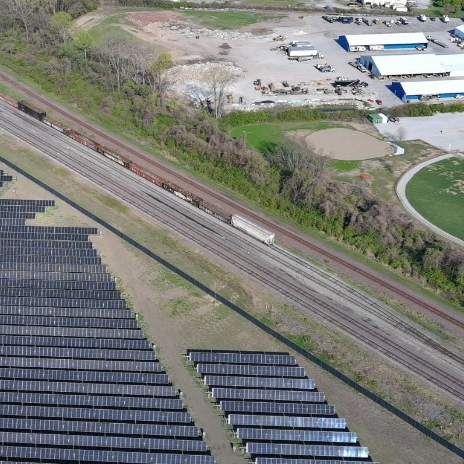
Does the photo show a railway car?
Yes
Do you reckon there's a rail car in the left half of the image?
Yes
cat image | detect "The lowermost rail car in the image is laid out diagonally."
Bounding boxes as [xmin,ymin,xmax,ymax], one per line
[234,215,275,245]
